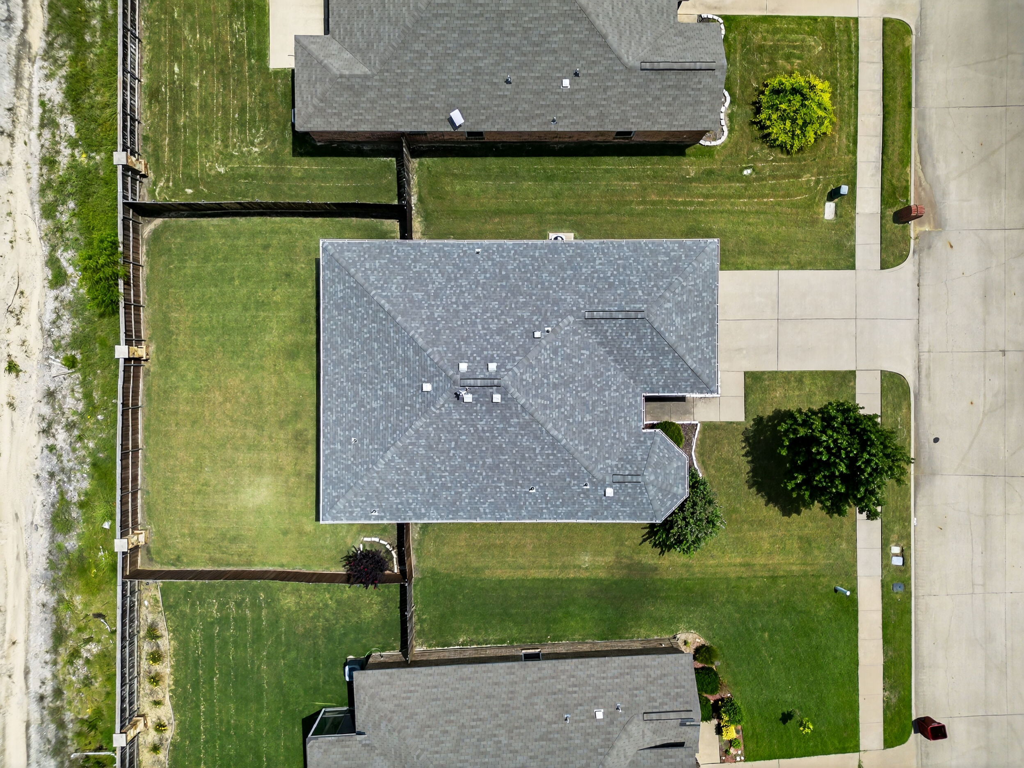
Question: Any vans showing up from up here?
No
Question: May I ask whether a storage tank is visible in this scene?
No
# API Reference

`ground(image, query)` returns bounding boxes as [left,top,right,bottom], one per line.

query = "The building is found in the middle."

[320,238,720,524]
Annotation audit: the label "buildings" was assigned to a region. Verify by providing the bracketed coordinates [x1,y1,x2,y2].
[306,637,707,768]
[320,238,720,524]
[294,0,729,141]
